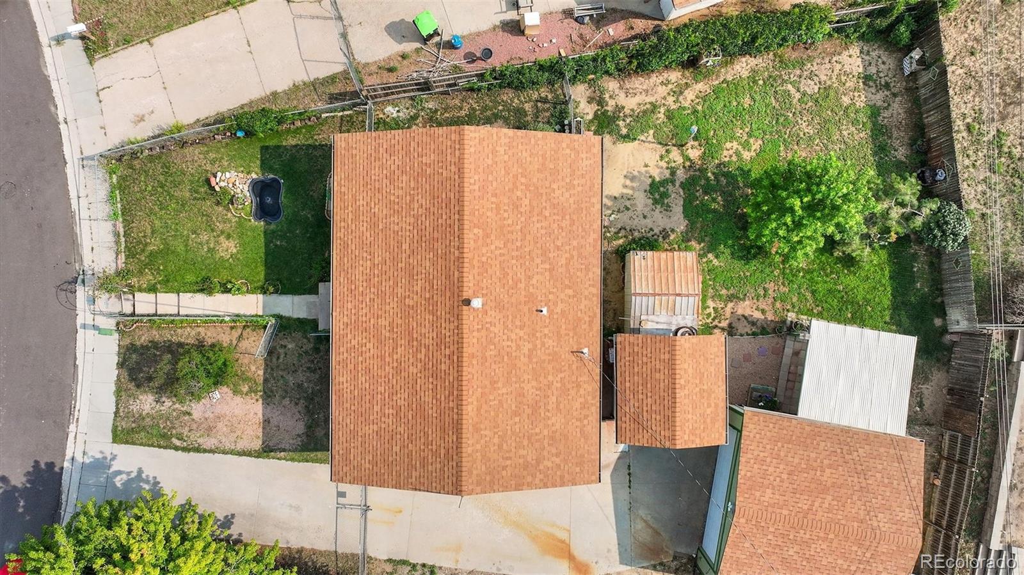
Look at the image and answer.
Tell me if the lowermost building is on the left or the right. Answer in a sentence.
The lowermost building sits on the right side.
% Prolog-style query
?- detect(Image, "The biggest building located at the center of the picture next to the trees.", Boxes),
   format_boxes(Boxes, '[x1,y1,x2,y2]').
[329,125,604,494]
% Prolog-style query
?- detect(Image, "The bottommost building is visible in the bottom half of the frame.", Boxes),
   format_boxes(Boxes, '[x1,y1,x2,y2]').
[694,404,924,575]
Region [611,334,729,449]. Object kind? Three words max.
shed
